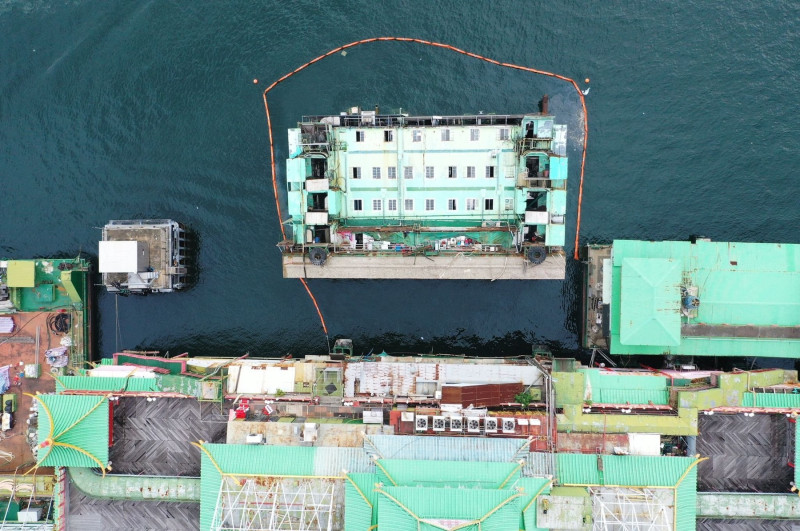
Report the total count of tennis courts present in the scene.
0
